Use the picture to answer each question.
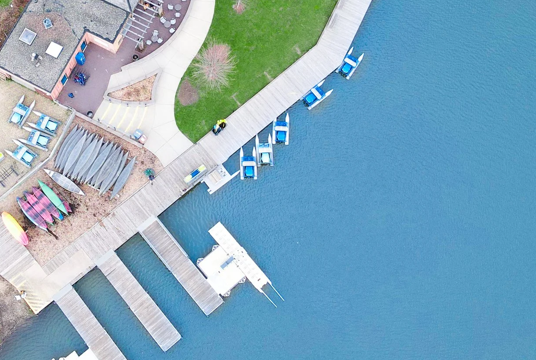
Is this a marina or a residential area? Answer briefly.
marina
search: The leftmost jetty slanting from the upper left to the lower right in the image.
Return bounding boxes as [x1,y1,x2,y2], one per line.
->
[53,284,127,360]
